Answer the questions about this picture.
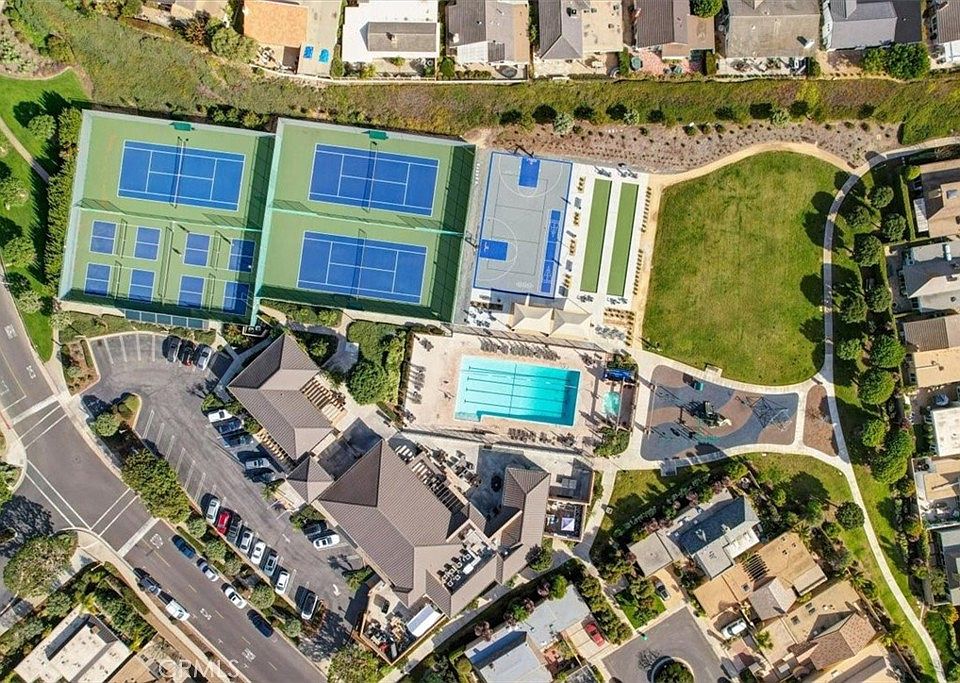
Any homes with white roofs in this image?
Yes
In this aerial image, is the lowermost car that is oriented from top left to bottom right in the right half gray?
No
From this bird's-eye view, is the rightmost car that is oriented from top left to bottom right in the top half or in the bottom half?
bottom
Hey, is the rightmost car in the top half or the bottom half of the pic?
bottom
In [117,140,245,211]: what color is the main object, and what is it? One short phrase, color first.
blue tennis court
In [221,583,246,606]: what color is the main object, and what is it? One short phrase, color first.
white car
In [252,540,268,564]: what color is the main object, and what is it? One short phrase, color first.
white car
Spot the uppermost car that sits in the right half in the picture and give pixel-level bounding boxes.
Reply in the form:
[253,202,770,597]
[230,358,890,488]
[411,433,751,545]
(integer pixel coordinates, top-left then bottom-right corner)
[652,575,672,601]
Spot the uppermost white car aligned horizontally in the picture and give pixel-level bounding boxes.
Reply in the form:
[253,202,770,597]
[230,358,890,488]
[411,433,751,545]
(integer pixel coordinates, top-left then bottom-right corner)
[207,409,233,423]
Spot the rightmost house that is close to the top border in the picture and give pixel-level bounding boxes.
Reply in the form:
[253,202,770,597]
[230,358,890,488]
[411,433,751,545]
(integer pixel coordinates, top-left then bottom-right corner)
[931,6,960,63]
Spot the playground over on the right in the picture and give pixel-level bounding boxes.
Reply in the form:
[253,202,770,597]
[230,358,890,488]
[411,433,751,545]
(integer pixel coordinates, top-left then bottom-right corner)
[641,365,800,461]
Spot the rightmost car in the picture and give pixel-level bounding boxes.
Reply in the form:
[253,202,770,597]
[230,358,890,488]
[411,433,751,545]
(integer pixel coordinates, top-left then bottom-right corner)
[719,616,746,637]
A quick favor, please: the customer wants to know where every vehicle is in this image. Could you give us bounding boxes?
[216,509,232,535]
[133,566,164,593]
[240,527,256,555]
[252,540,268,564]
[196,345,214,370]
[246,457,272,469]
[584,620,605,646]
[300,523,328,540]
[205,496,223,524]
[166,339,183,365]
[652,575,672,601]
[276,570,292,594]
[301,589,319,617]
[248,610,274,634]
[159,588,190,616]
[181,341,196,367]
[263,550,280,577]
[207,409,233,423]
[227,519,244,545]
[226,434,253,446]
[314,533,340,549]
[215,420,243,433]
[221,583,246,606]
[719,616,746,637]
